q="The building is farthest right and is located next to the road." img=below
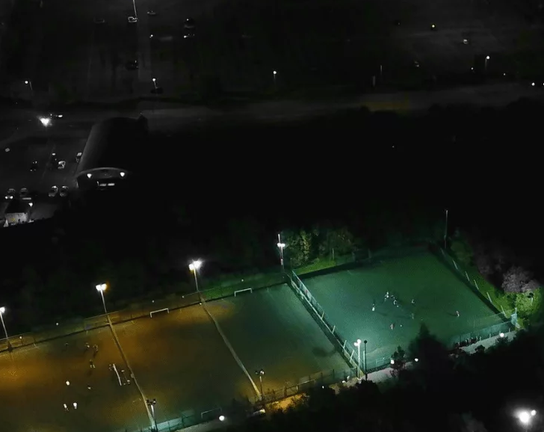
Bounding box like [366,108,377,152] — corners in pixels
[75,100,156,188]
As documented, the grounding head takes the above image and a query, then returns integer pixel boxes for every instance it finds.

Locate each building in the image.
[1,198,33,224]
[75,100,156,188]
